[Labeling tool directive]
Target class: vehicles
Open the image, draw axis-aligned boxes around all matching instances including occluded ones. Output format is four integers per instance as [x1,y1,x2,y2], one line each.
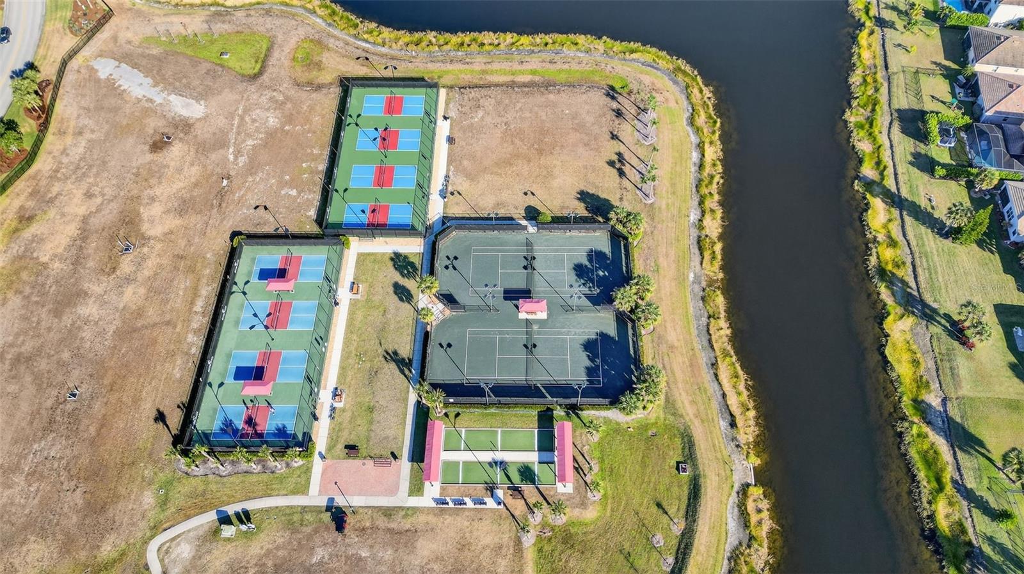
[0,28,12,43]
[334,516,348,534]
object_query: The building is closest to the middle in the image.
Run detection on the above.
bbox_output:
[518,299,547,319]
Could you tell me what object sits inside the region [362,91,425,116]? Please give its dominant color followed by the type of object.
blue sports court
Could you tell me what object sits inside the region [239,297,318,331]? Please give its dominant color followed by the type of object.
blue sports court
